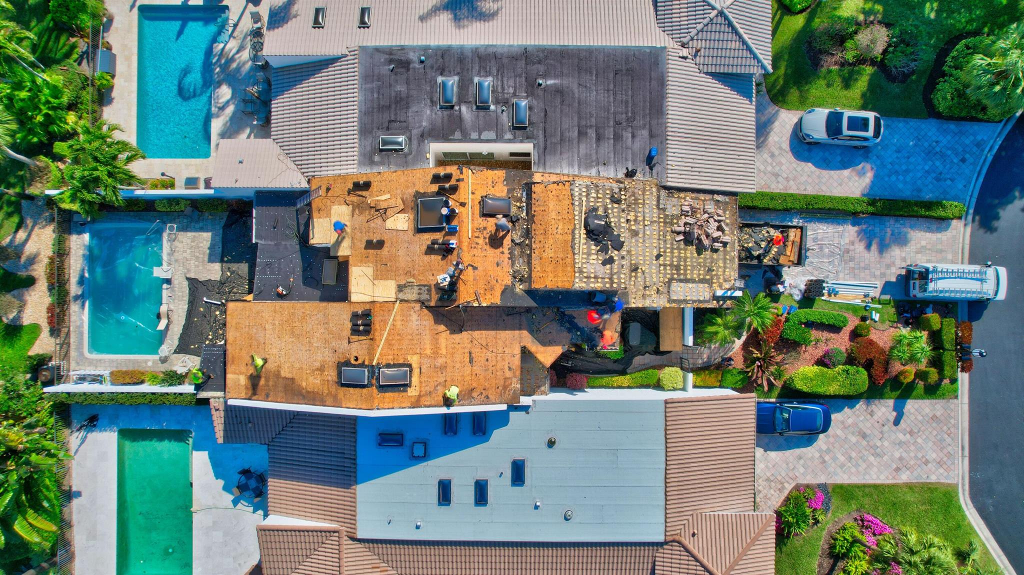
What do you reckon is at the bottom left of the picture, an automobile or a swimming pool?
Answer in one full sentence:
There is a swimming pool at the bottom left of the picture.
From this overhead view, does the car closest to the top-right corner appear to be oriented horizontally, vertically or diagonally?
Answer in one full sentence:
In this picture, the car closest to the top-right corner is oriented horizontally.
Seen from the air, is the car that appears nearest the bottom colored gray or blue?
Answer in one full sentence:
In this view, the car that appears nearest the bottom is blue.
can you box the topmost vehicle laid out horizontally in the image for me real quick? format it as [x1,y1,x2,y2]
[794,107,883,150]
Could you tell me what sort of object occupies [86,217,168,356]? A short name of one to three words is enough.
swimming pool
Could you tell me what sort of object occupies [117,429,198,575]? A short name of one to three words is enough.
swimming pool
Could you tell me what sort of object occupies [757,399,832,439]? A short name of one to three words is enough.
car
